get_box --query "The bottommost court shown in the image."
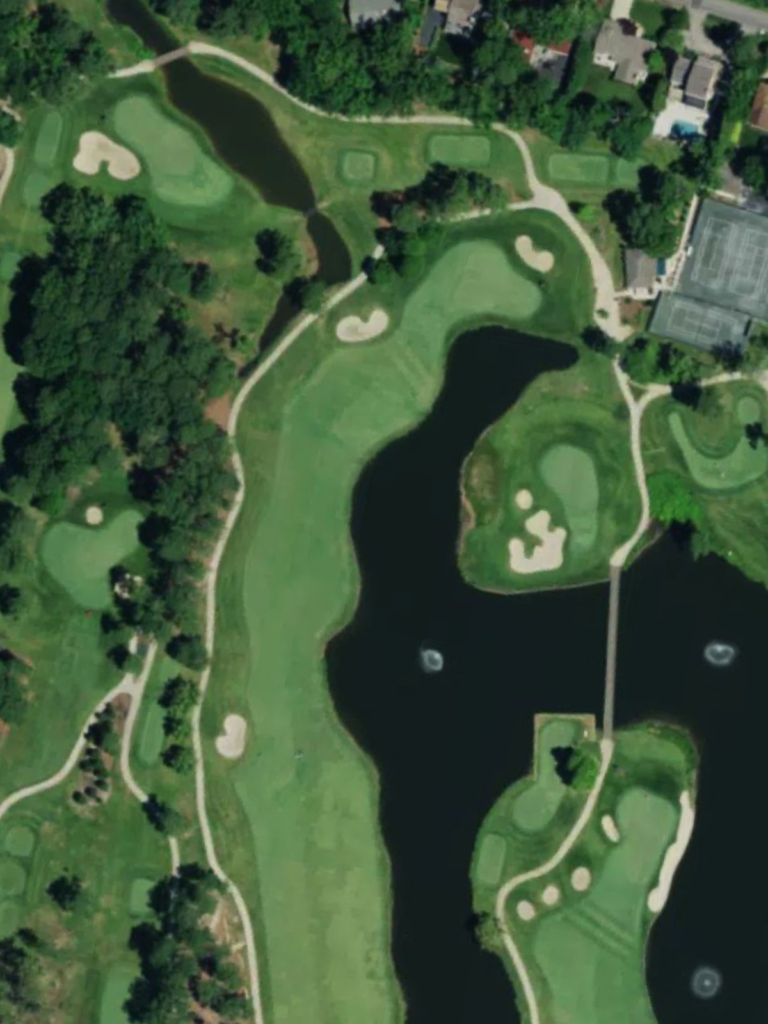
[650,293,753,359]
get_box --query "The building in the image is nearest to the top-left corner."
[344,0,399,28]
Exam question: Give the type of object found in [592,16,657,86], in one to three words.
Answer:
house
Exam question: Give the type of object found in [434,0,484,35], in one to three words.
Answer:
house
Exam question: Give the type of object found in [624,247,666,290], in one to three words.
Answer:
building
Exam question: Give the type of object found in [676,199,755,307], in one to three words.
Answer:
tennis court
